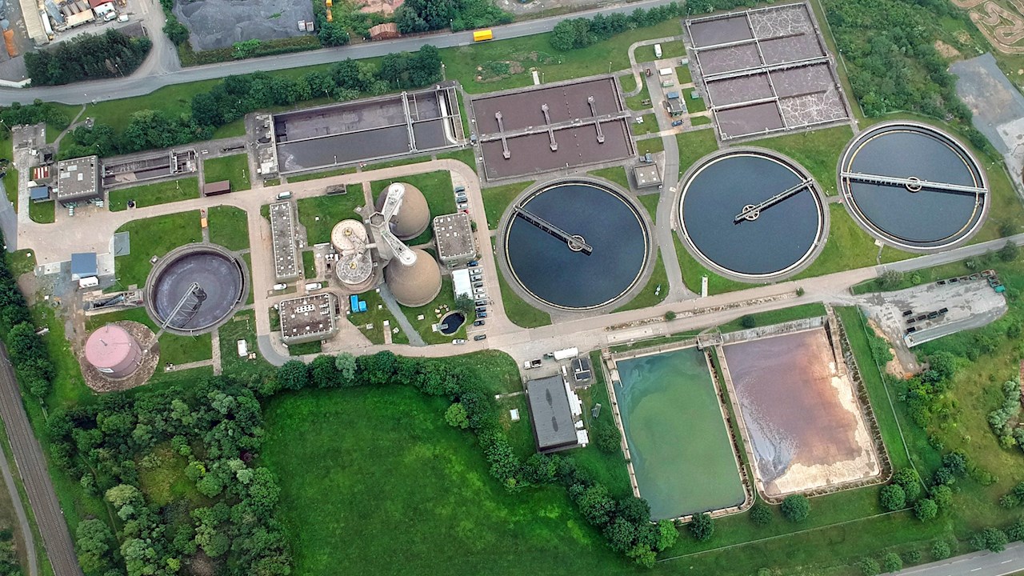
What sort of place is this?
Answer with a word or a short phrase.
industrial area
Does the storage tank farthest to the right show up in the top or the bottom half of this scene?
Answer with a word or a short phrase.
top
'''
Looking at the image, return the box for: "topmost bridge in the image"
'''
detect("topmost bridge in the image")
[400,89,425,156]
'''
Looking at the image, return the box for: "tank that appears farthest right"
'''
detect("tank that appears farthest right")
[833,118,993,256]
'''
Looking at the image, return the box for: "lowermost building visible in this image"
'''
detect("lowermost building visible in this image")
[524,374,580,456]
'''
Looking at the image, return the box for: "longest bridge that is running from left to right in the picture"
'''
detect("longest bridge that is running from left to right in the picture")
[839,170,990,195]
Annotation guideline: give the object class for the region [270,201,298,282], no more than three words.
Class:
building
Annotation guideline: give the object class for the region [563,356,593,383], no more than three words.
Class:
shed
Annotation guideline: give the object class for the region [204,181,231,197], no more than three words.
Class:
shed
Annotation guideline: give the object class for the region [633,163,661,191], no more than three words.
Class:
building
